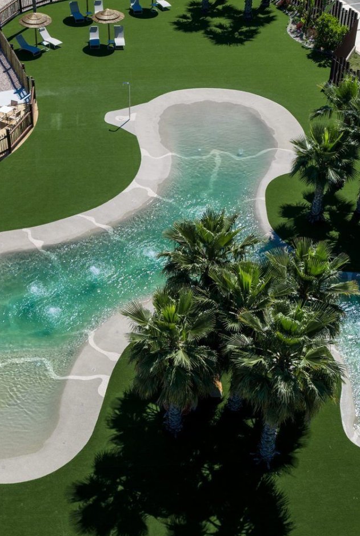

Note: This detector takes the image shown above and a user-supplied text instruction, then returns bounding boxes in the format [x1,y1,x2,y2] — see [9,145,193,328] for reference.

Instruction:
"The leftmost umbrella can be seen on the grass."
[18,11,51,46]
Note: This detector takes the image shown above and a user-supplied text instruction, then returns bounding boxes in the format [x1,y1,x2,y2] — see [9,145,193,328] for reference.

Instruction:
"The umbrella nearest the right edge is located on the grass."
[92,10,125,45]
